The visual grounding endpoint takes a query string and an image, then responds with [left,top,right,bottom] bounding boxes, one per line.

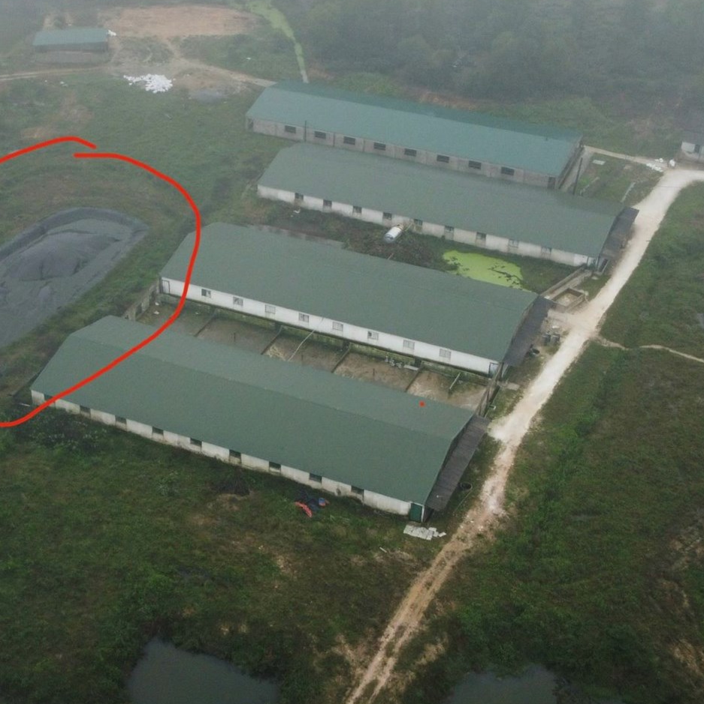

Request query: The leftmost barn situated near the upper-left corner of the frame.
[31,22,110,68]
